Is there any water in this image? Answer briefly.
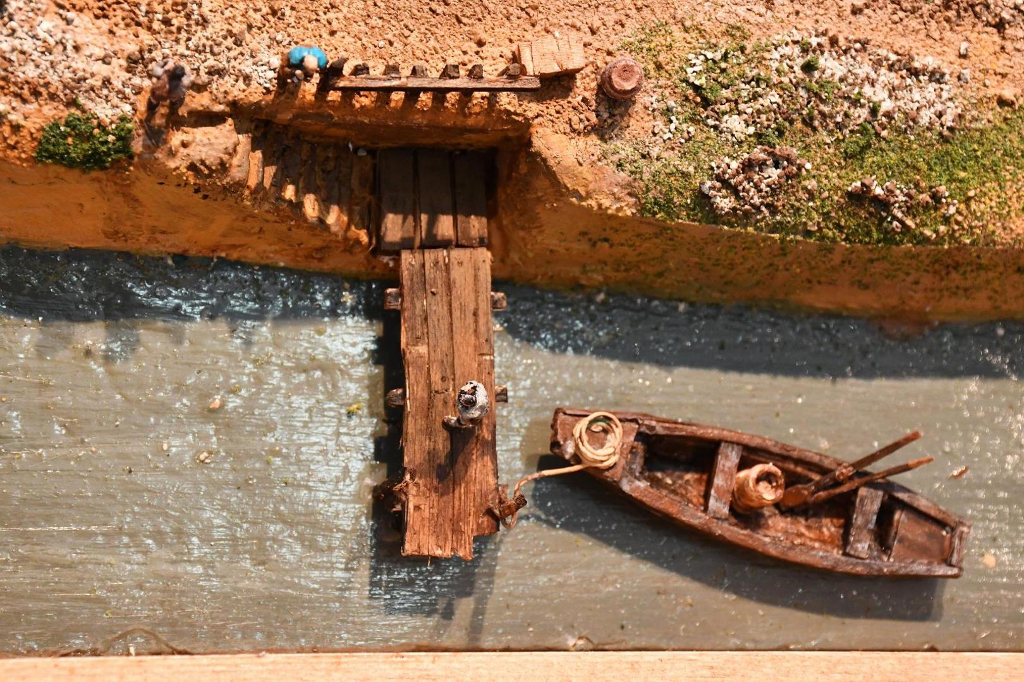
Yes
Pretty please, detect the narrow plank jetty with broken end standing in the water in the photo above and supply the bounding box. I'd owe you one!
[377,247,527,566]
